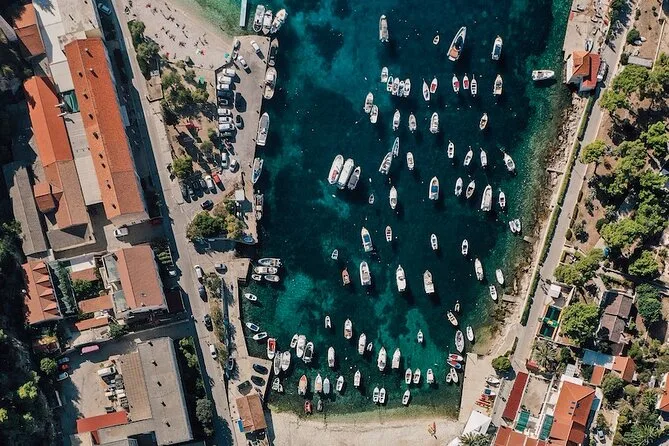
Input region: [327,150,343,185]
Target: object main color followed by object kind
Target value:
white boat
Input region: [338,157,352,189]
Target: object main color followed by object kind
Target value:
white boat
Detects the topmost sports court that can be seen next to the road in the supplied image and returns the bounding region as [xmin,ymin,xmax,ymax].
[540,304,568,343]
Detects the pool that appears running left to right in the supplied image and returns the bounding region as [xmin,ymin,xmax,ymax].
[581,349,610,366]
